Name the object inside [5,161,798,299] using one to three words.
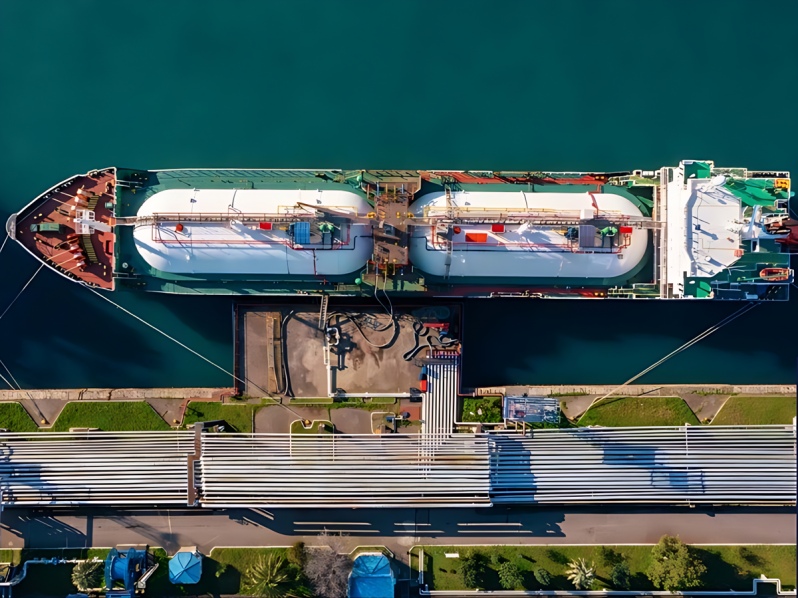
ship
